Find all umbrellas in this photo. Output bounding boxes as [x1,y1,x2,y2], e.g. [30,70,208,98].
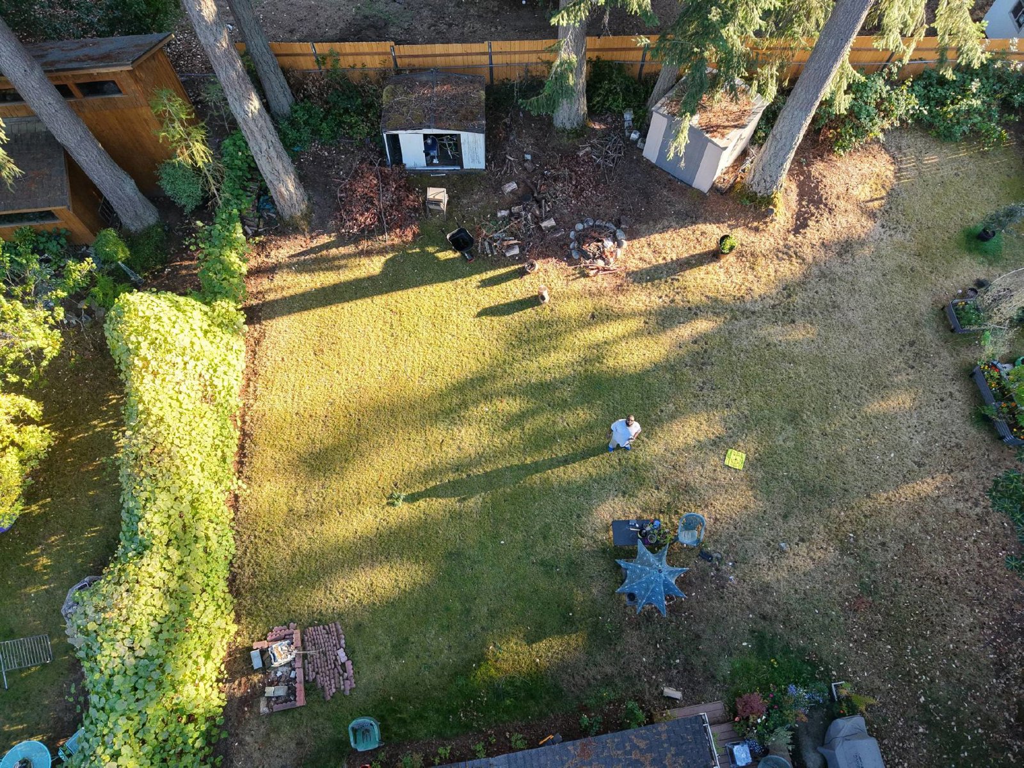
[615,539,689,616]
